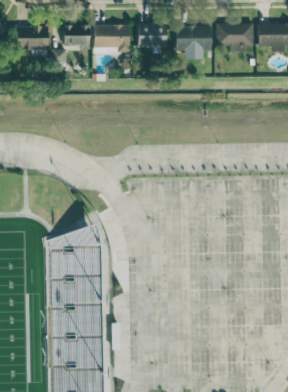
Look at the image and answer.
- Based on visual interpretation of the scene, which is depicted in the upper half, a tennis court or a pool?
pool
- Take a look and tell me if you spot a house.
Yes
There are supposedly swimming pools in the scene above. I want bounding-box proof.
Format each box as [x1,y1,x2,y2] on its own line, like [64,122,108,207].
[94,54,120,74]
[267,52,288,72]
